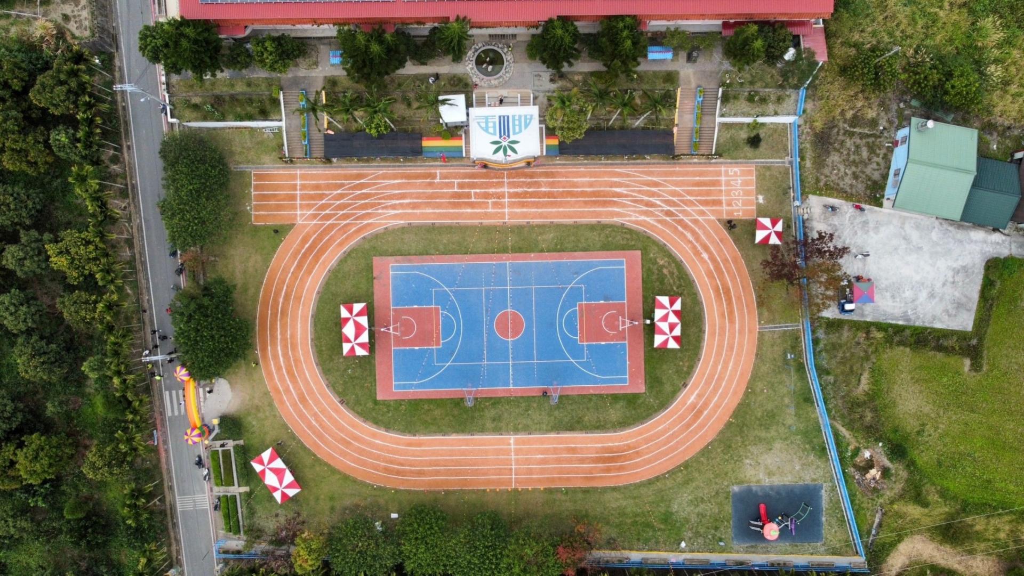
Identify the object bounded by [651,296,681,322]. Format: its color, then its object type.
white tent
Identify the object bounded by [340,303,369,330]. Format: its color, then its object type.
white tent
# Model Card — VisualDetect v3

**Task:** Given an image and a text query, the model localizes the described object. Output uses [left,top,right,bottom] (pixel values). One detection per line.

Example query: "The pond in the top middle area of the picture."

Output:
[464,38,516,91]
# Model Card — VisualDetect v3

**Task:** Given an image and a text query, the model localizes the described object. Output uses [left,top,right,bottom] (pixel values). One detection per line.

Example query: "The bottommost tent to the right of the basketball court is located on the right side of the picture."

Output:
[650,322,681,349]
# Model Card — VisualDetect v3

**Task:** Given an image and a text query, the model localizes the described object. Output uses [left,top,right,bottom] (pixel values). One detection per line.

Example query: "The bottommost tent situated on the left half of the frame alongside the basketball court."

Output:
[342,328,373,356]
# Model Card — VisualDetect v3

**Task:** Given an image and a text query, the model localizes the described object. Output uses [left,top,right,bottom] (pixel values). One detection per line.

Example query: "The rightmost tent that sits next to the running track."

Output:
[750,218,782,244]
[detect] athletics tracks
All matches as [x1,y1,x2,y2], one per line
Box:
[250,164,758,491]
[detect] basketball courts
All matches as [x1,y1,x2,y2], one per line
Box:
[373,250,645,399]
